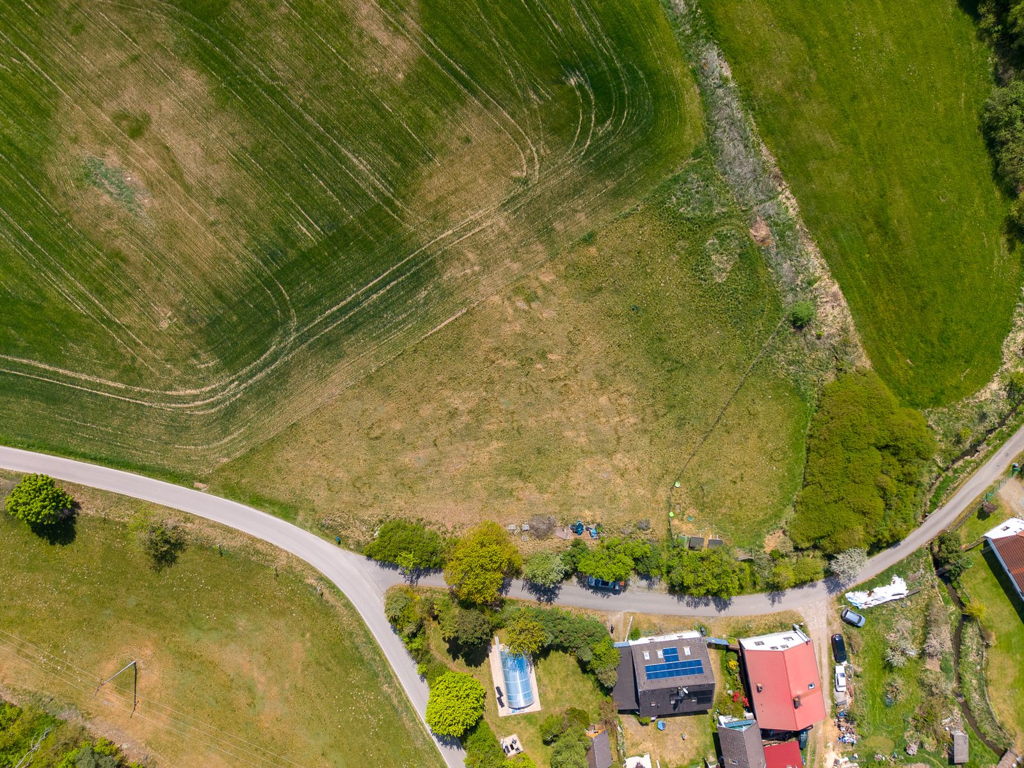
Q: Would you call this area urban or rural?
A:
rural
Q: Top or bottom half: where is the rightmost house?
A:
bottom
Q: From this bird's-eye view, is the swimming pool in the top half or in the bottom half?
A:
bottom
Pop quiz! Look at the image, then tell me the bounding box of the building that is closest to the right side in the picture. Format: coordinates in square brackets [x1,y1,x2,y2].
[984,520,1024,603]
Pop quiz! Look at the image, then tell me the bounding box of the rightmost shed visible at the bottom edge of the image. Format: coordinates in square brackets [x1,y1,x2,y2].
[946,728,969,763]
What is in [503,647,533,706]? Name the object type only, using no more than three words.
swimming pool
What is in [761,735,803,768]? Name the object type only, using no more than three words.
shed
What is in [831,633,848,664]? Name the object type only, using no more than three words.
car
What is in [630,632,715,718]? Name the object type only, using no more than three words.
house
